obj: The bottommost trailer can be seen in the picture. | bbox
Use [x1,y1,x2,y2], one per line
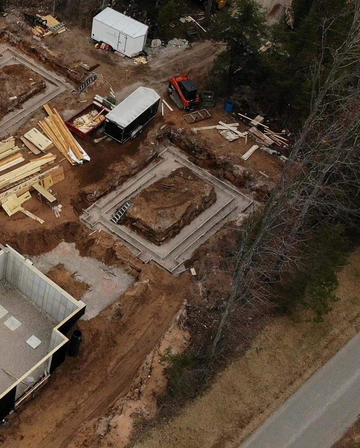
[101,88,161,144]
